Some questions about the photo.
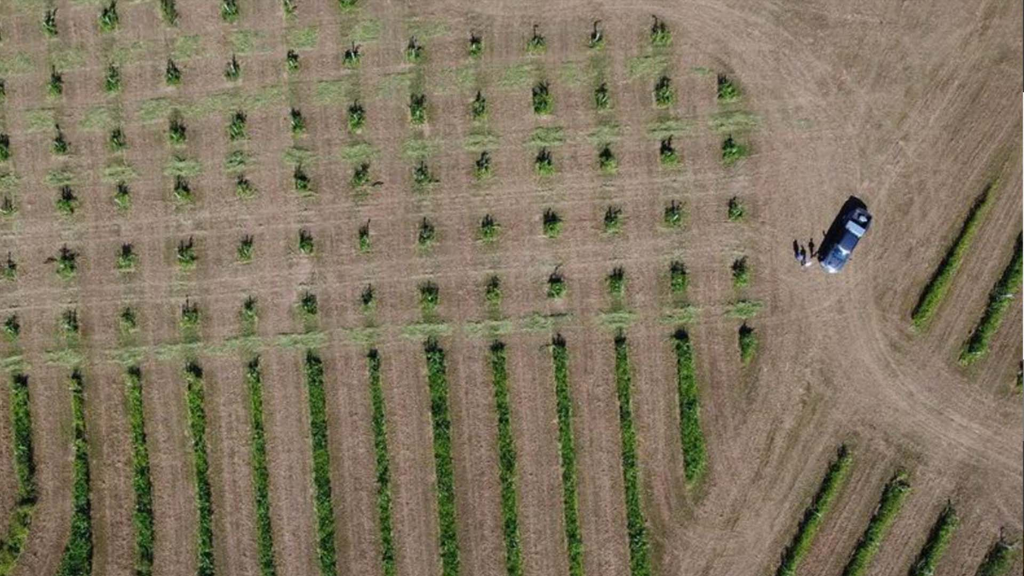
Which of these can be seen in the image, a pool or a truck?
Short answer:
truck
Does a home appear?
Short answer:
No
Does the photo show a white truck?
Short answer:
No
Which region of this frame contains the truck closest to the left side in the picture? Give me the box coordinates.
[820,205,874,276]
